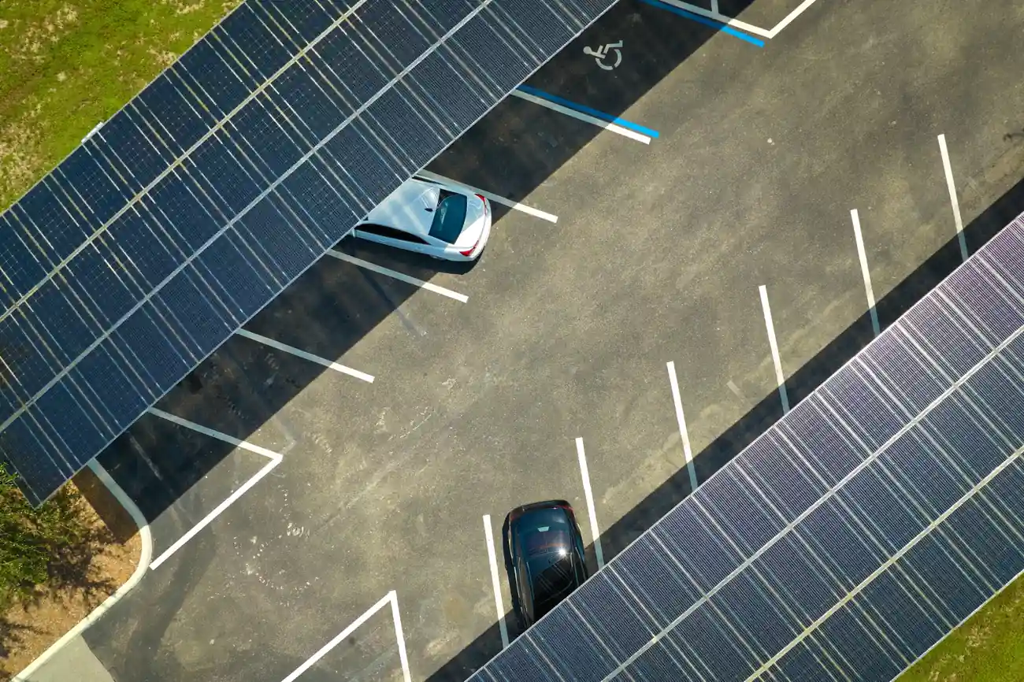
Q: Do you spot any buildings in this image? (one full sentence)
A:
No, there is no building in the image.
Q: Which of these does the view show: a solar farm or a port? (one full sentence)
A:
The area seen from above is a solar farm.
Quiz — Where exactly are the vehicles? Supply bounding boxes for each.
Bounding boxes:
[310,145,492,259]
[506,496,599,682]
